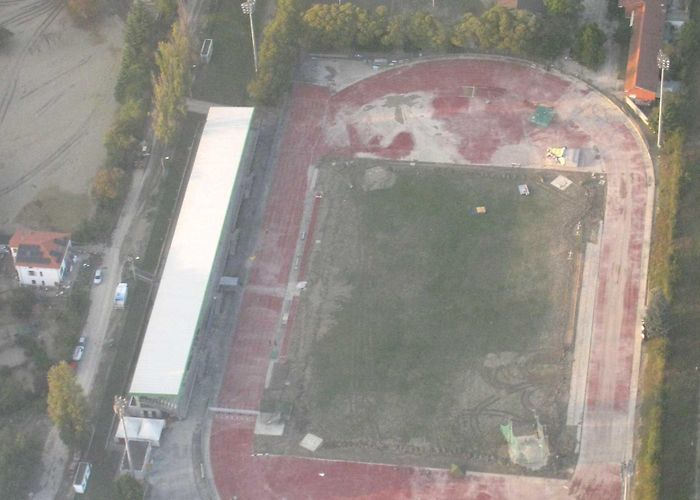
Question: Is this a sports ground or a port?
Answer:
sports ground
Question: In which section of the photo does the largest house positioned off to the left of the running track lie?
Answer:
left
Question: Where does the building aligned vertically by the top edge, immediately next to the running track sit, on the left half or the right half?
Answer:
right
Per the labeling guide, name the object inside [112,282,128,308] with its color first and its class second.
white vehicle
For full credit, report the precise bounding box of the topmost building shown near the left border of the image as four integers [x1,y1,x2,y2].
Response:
[13,229,71,286]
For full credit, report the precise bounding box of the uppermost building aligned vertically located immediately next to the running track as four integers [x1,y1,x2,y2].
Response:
[621,0,665,109]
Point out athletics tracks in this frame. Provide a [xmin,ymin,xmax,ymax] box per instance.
[201,56,654,500]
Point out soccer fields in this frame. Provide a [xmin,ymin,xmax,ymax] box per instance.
[254,161,605,475]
